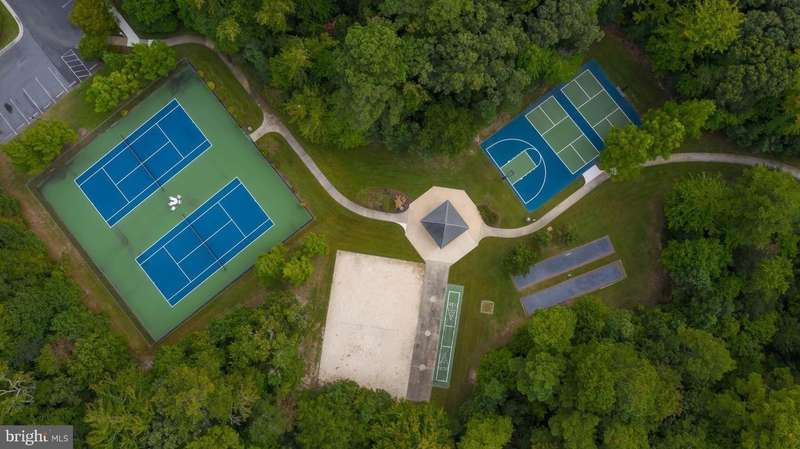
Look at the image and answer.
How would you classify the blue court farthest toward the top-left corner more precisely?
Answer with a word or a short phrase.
tennis court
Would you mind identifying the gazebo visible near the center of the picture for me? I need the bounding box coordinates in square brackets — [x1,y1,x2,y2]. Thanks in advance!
[420,200,470,249]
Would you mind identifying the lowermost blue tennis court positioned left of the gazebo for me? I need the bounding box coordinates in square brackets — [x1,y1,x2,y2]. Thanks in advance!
[137,178,273,306]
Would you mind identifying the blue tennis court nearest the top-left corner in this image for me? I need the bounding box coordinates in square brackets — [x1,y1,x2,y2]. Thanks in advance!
[75,98,212,227]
